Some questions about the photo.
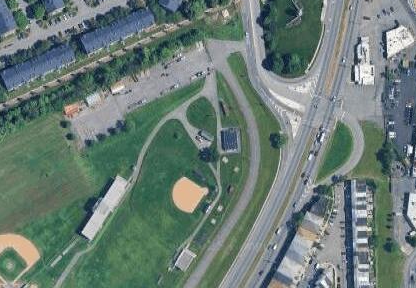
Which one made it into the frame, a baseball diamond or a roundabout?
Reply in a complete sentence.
Of the two, only a baseball diamond appears.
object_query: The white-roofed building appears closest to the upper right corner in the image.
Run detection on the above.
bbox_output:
[386,26,414,60]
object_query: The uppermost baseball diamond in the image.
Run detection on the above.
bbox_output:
[172,178,208,213]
